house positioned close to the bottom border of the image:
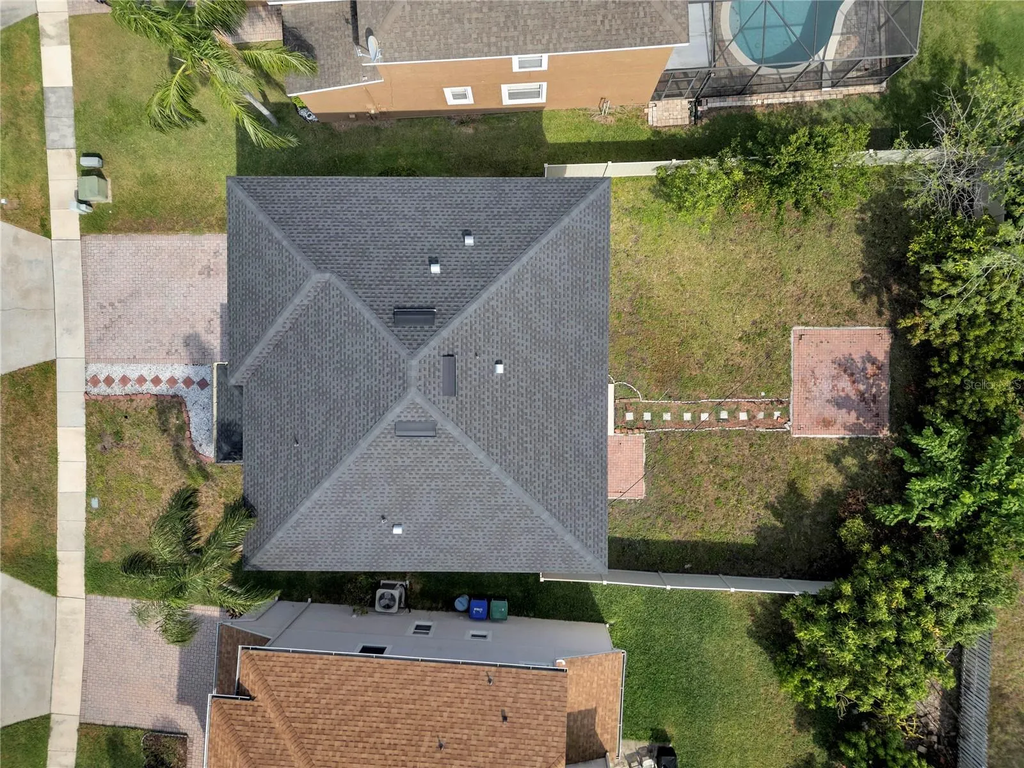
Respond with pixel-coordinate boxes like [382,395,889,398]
[198,593,621,768]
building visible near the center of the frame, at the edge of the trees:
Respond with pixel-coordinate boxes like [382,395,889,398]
[210,177,609,572]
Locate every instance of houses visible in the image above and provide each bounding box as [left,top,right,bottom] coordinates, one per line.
[198,593,621,768]
[210,177,609,572]
[266,0,713,122]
